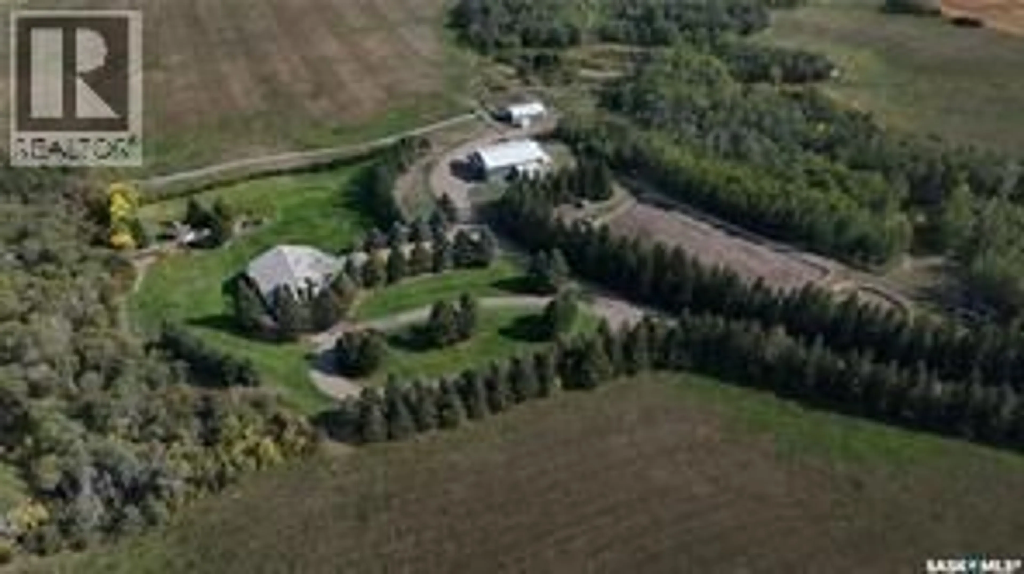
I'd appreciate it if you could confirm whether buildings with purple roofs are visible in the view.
No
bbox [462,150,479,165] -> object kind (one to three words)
vehicle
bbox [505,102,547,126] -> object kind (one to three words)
shed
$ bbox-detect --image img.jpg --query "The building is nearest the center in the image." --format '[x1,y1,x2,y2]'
[477,141,552,184]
